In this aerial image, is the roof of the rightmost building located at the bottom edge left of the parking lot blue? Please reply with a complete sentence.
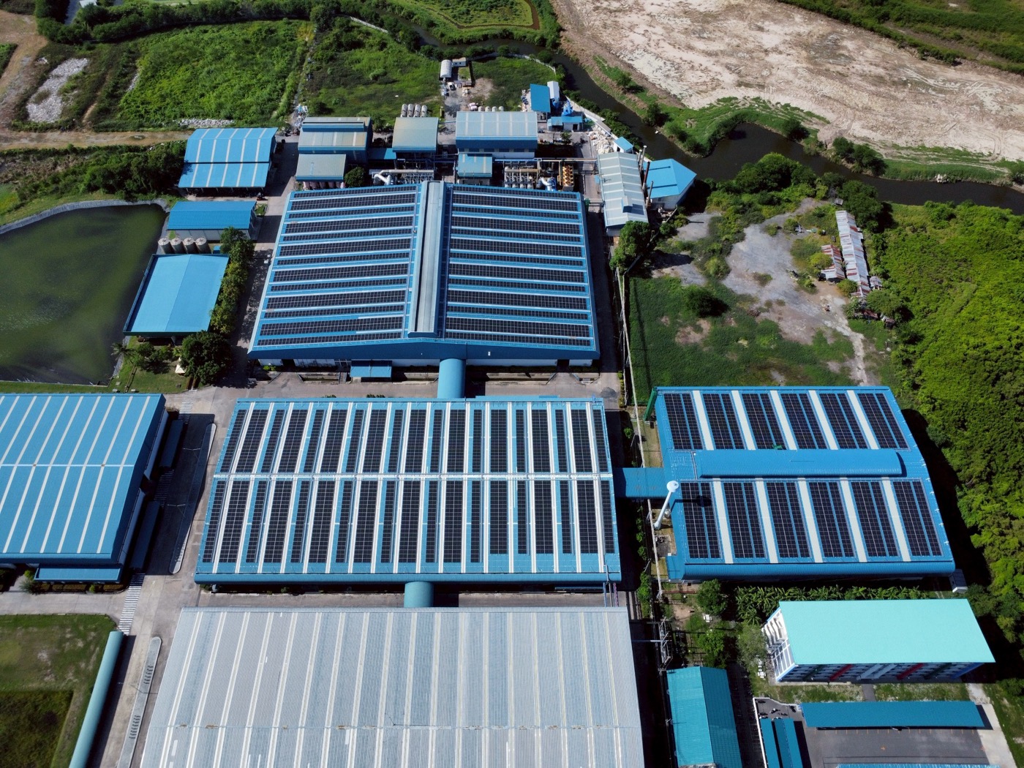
Yes, the roof of the rightmost building located at the bottom edge left of the parking lot appears blue.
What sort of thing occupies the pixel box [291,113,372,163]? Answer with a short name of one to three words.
building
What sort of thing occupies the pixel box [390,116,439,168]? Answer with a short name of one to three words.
shed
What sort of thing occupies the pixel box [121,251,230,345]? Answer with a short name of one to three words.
shed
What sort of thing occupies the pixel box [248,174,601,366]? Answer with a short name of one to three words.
building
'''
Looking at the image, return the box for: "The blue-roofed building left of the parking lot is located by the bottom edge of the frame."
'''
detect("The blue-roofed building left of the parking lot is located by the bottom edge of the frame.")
[666,667,740,768]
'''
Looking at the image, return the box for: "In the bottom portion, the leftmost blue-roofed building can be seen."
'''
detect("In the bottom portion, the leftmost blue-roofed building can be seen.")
[0,394,192,586]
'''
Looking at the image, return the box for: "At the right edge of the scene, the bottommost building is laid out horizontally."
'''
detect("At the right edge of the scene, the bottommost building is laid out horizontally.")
[764,599,994,679]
